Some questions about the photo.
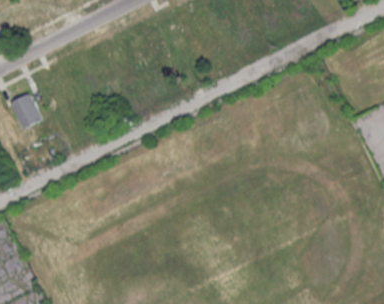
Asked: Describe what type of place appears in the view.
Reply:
sports ground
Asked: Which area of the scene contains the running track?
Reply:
bottom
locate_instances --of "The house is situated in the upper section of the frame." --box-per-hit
[12,94,44,129]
